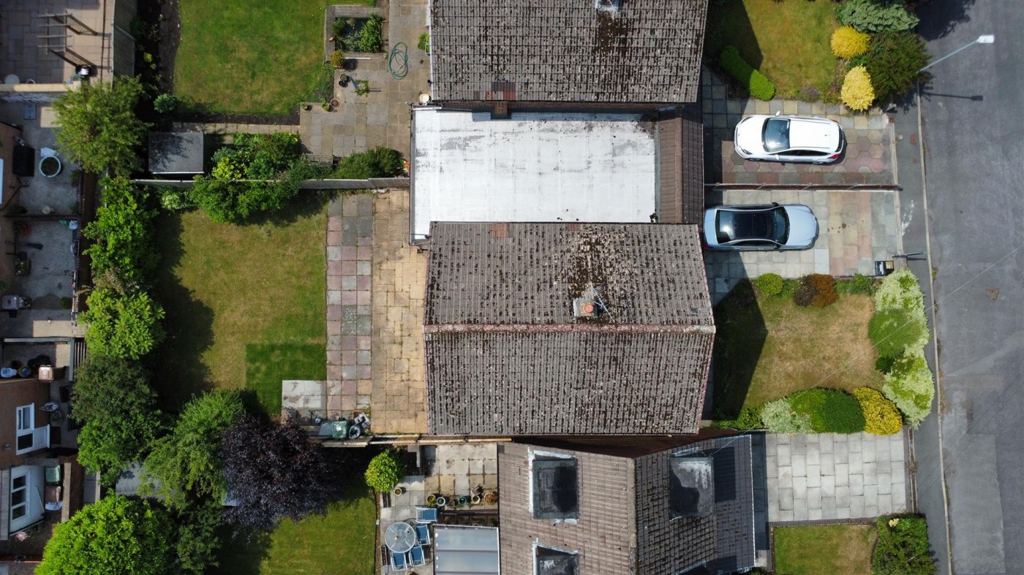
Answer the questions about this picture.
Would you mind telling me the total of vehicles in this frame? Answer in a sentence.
The count of vehicles comes to 2.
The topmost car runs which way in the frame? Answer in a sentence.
From this overhead view, the topmost car appears to run from left to right.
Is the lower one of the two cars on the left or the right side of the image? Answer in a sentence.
You can find the lower one of the two cars on the right side of the picture.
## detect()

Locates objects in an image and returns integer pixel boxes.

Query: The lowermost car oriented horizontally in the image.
[702,198,817,255]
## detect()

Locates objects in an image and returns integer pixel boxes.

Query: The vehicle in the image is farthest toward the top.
[733,109,845,166]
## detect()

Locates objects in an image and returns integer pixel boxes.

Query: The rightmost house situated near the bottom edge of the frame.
[495,427,754,575]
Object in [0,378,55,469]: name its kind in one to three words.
house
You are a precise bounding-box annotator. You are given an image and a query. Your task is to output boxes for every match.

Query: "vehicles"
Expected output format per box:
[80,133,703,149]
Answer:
[702,198,817,255]
[733,109,845,166]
